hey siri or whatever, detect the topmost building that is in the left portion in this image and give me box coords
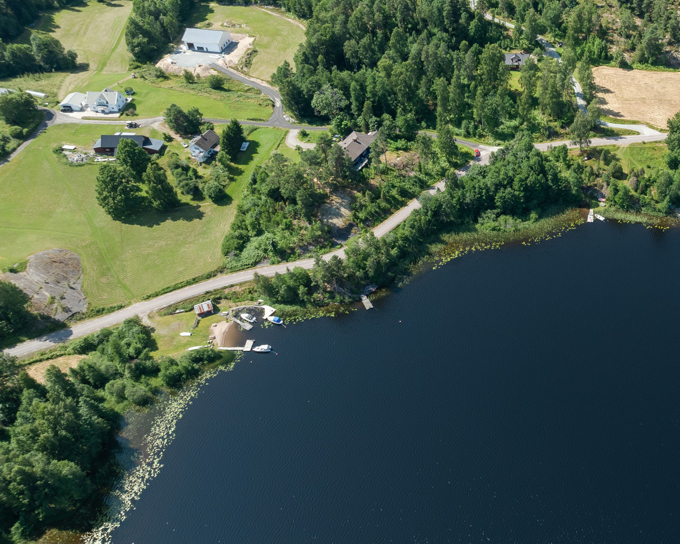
[181,27,235,52]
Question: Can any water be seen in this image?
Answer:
Yes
